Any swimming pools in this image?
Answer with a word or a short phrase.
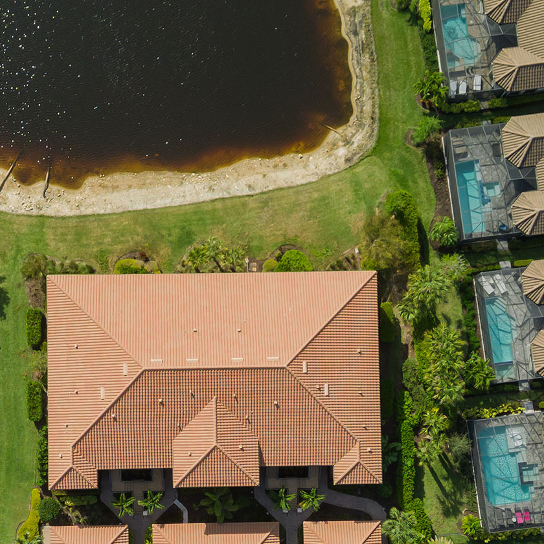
Yes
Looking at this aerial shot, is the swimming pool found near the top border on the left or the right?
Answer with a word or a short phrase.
right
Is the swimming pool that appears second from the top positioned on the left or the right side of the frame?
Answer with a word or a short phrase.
right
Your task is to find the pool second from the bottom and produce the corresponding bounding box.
[485,295,519,379]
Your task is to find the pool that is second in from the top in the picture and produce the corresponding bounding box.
[455,158,505,233]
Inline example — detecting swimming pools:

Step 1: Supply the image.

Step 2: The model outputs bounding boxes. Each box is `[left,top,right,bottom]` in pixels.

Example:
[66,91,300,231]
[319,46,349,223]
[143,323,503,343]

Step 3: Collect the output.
[478,425,541,506]
[439,1,483,67]
[455,158,505,233]
[485,295,519,379]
